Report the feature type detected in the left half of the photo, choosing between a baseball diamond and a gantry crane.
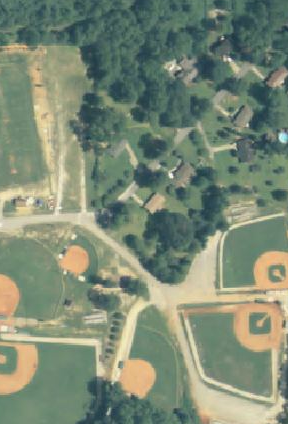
baseball diamond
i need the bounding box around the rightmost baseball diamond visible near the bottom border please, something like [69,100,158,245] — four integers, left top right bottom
[182,303,283,403]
